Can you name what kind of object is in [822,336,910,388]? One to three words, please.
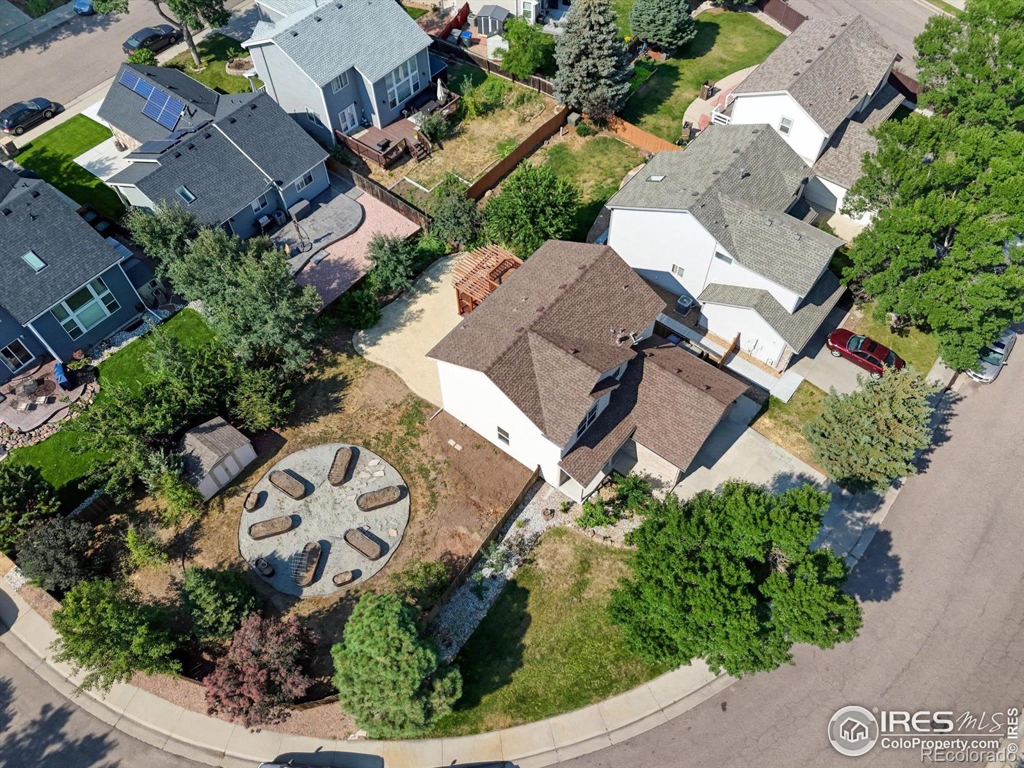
car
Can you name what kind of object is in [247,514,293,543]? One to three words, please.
storage tank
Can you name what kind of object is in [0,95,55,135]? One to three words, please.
car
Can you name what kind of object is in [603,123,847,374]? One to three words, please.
house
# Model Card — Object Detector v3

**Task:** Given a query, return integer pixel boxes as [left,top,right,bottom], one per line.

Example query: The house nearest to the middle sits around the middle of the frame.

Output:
[424,239,750,505]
